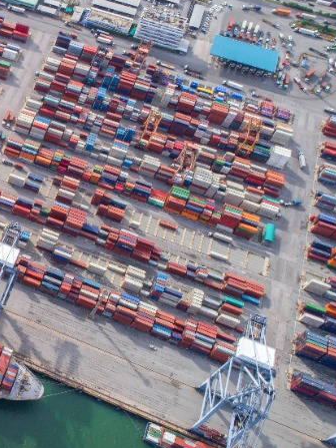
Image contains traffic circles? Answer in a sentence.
No, the scene contains no traffic circle.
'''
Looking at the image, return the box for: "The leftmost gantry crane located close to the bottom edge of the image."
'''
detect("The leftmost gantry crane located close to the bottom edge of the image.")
[185,313,282,448]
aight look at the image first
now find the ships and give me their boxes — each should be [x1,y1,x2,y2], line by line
[141,421,171,448]
[0,364,44,401]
